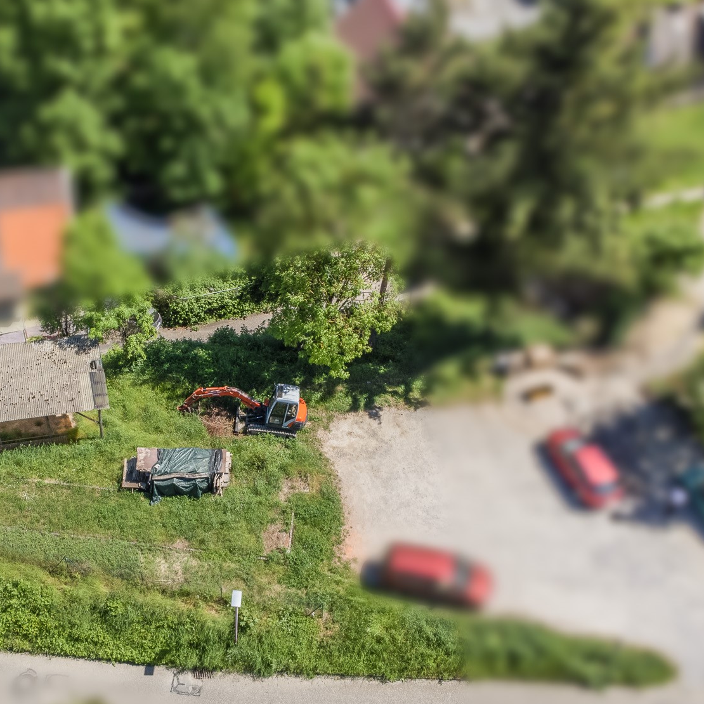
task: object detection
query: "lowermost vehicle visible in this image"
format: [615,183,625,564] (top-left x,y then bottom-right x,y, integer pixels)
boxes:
[375,538,497,615]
